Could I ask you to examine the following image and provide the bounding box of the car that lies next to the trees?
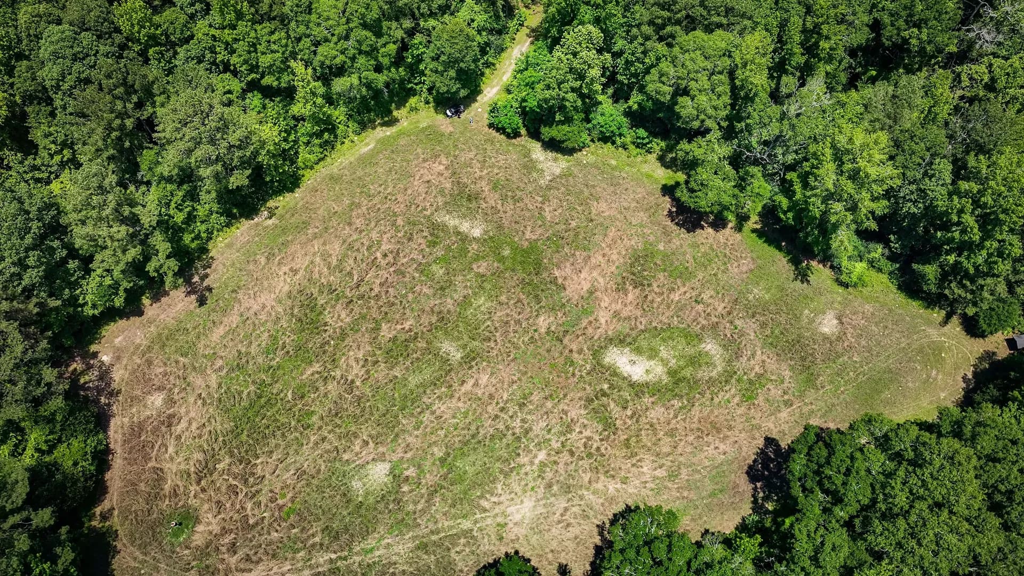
[445,104,467,118]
